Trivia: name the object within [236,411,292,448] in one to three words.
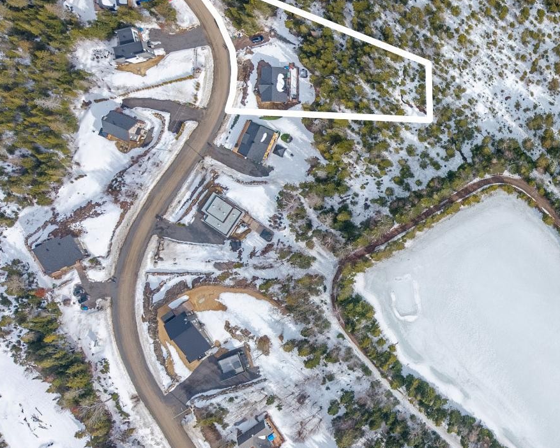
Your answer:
house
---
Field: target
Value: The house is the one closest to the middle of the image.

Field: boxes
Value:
[203,191,276,243]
